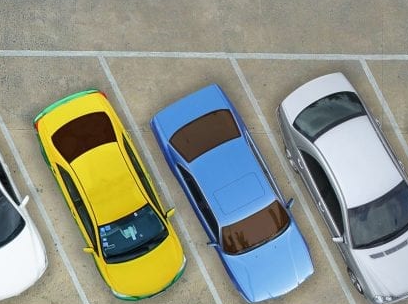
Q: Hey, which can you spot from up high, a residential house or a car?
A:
car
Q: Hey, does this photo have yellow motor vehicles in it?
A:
Yes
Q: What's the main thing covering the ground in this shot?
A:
paved ground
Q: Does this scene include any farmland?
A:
No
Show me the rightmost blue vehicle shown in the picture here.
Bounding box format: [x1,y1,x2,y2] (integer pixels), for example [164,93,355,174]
[148,88,311,304]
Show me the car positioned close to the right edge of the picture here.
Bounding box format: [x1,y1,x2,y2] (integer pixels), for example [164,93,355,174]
[275,74,408,304]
